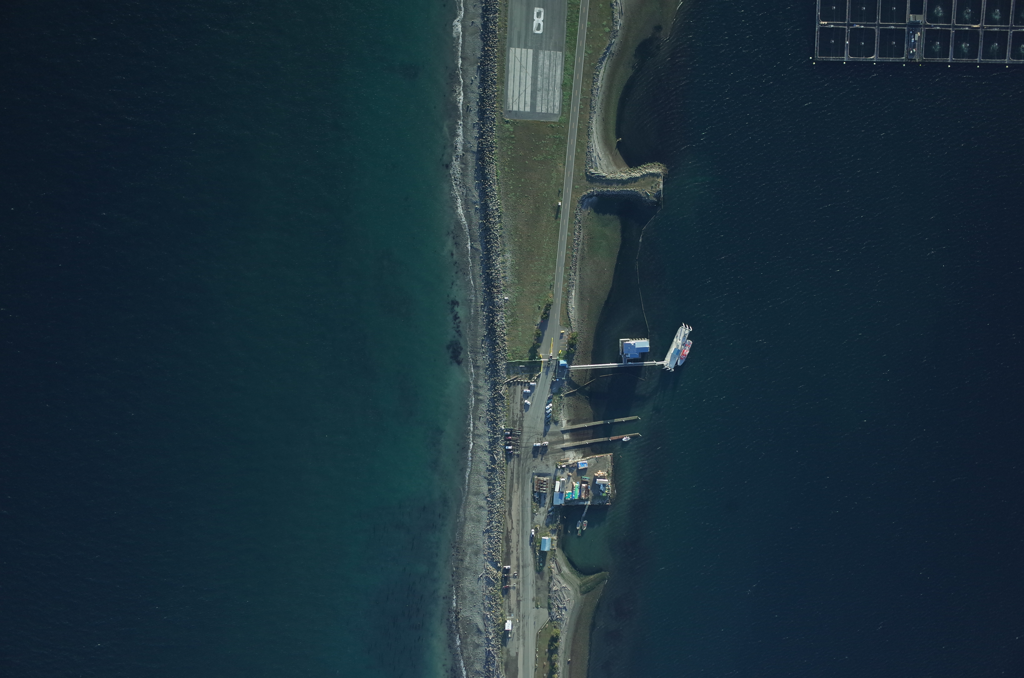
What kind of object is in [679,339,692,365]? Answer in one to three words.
boat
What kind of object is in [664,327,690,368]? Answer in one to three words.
ship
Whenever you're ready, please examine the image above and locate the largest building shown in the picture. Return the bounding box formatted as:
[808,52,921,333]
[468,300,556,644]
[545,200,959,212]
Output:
[620,338,650,364]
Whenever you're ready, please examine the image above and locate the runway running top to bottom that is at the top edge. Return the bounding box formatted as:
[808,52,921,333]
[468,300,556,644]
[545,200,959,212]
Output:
[504,0,567,122]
